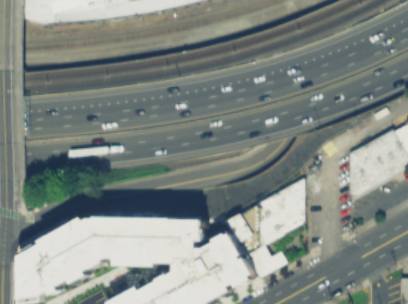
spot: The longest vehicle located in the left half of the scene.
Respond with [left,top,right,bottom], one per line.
[68,144,124,156]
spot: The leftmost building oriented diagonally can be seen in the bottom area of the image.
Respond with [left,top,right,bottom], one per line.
[227,213,254,244]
